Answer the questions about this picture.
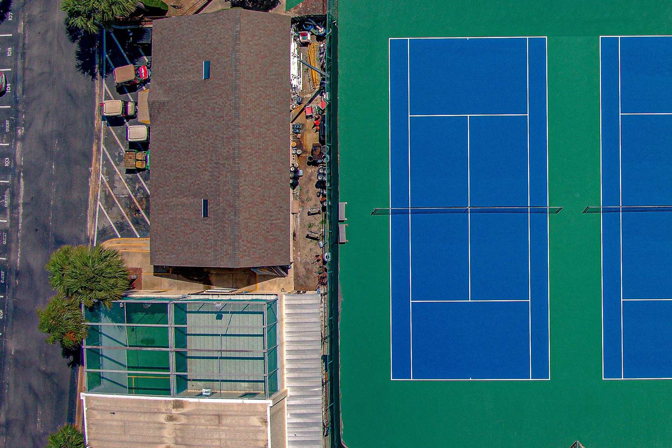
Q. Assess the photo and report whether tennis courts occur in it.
Yes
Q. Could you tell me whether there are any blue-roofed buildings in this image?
No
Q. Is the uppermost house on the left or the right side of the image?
left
